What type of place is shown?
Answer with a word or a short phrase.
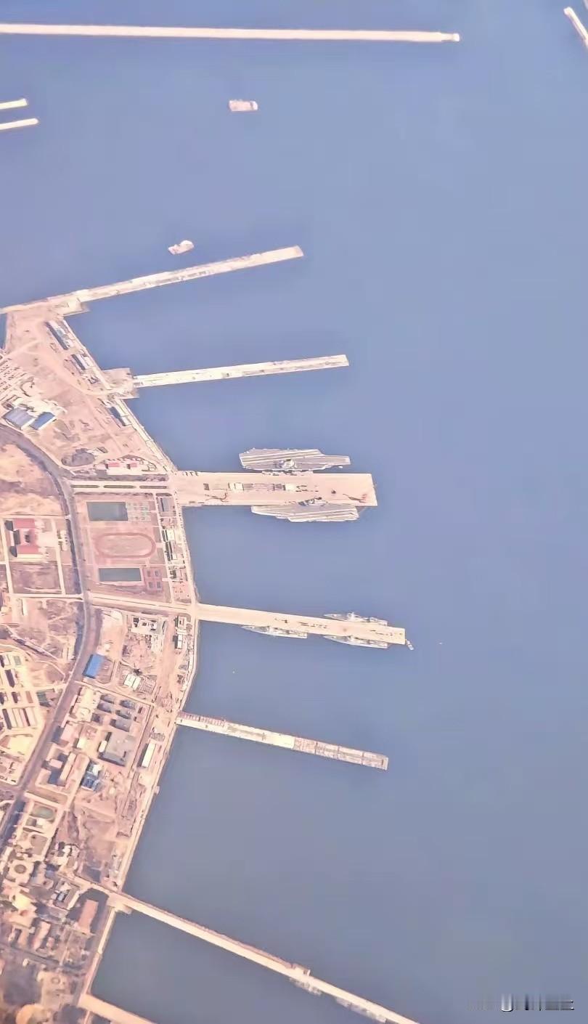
port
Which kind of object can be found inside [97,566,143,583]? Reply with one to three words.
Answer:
sports field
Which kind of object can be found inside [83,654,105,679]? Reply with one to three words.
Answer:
hangar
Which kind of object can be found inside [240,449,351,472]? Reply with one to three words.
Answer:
ship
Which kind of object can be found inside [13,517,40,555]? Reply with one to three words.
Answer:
building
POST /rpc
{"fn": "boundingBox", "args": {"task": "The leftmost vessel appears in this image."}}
[167,238,195,255]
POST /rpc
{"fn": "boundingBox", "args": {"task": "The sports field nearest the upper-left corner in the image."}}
[85,501,129,522]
